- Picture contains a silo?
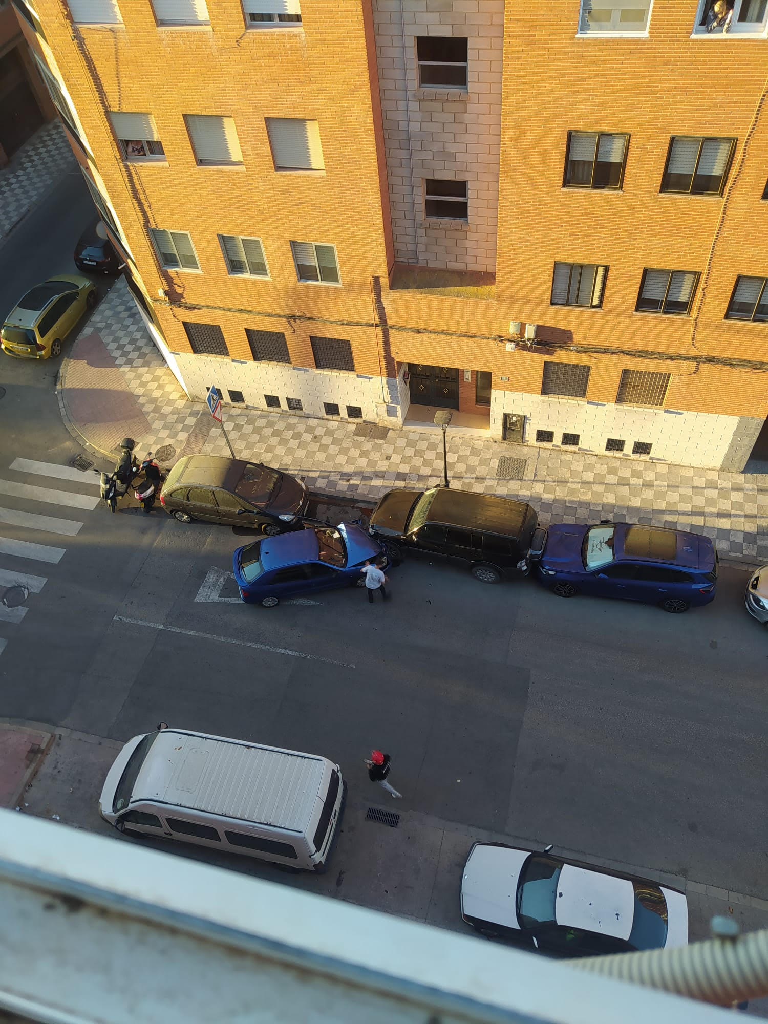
No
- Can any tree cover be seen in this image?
No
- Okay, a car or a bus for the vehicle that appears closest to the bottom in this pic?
car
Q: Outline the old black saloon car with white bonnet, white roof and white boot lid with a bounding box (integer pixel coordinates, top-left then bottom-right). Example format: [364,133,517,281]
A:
[450,837,691,959]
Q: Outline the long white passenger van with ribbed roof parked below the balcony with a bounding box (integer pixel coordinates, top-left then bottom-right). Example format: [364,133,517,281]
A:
[96,719,353,871]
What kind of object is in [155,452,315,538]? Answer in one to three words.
car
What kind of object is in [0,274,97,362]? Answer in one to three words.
car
